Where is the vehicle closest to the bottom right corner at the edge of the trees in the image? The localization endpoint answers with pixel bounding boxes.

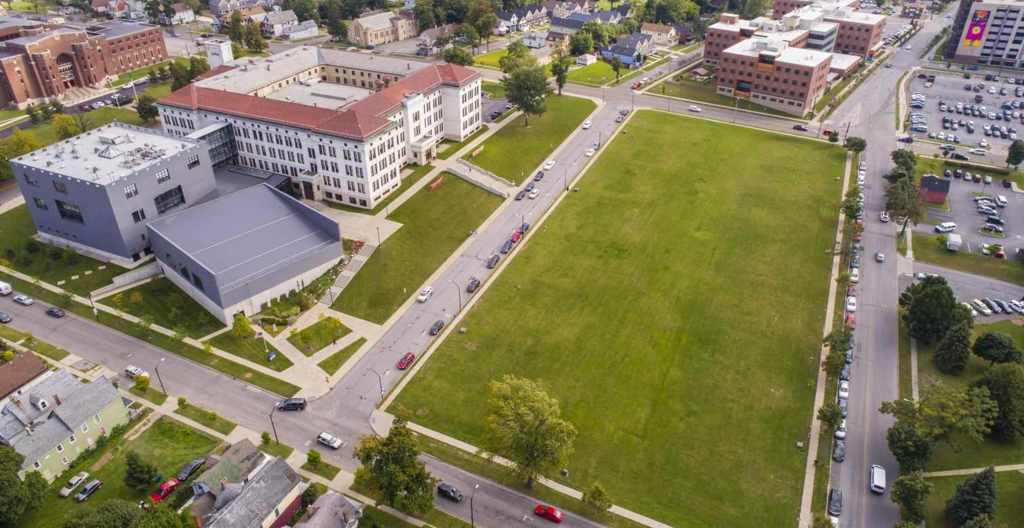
[869,464,887,495]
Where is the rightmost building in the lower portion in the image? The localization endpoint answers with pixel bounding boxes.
[284,491,376,528]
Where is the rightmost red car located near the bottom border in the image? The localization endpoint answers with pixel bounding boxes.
[533,504,564,525]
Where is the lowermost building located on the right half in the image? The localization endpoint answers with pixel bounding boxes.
[919,171,953,204]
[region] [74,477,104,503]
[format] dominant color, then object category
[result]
gray car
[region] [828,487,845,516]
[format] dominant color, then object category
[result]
gray car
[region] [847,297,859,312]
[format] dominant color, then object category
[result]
white vehicle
